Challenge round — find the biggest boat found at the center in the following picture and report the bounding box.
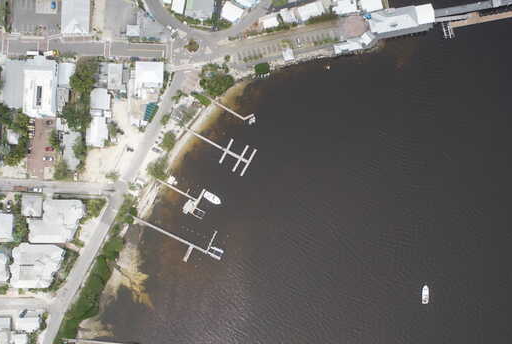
[204,190,220,203]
